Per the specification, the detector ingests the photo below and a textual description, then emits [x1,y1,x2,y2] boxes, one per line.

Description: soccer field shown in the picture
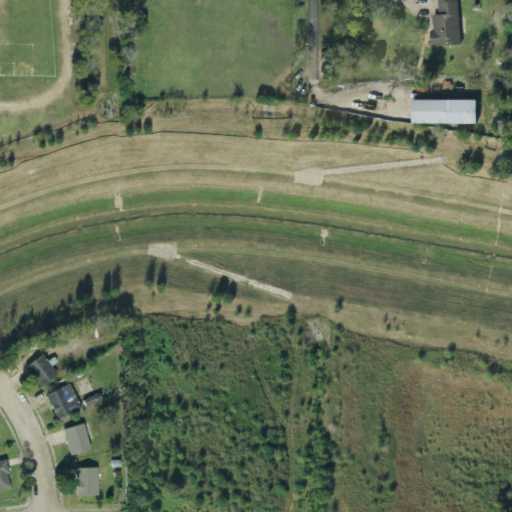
[0,0,56,76]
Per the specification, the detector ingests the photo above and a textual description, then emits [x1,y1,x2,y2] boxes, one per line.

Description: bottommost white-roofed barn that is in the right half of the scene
[412,98,482,124]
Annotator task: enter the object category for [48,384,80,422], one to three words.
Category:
house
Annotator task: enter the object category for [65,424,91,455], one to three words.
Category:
house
